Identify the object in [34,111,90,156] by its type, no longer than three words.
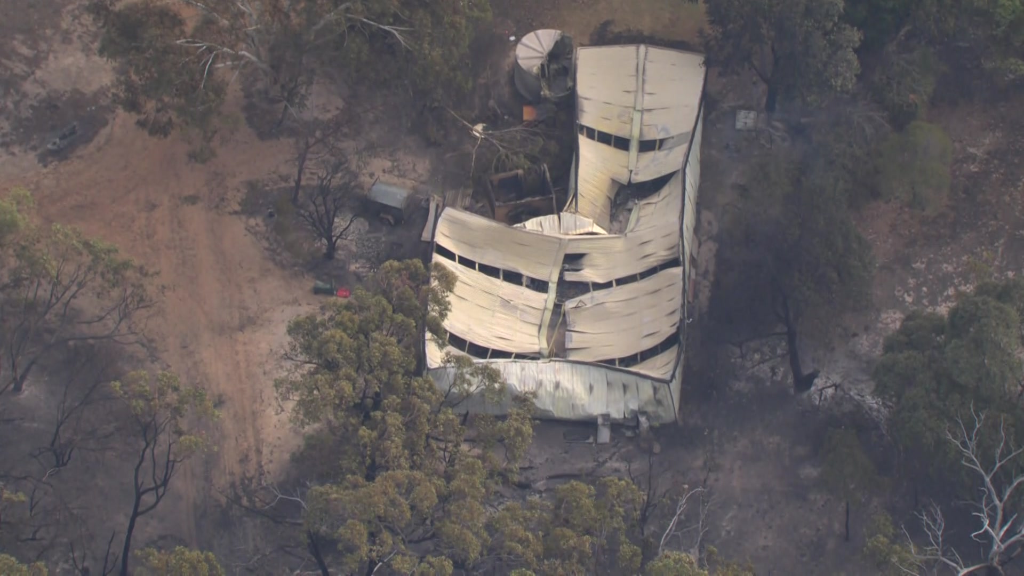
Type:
vehicle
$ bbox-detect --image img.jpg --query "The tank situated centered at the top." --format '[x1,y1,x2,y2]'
[515,34,574,102]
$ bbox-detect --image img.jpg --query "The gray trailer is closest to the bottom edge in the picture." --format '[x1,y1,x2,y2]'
[369,177,424,226]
